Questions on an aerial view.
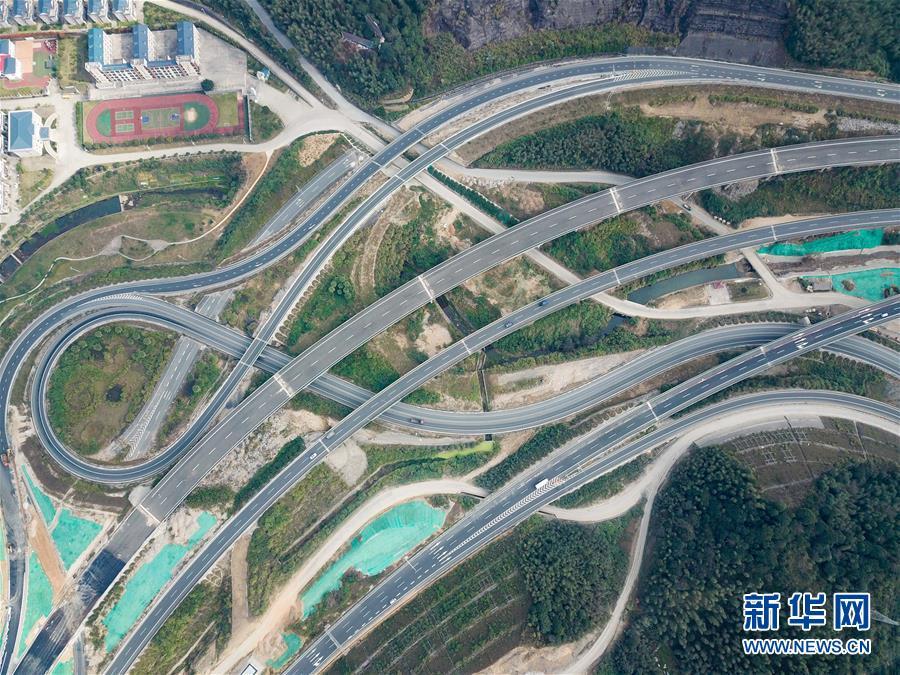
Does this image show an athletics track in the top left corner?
Yes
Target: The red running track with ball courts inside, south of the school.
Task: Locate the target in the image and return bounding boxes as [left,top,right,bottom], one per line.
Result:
[86,93,218,145]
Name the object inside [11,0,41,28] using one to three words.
house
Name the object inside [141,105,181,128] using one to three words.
basketball court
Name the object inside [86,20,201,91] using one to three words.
building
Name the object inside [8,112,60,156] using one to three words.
building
